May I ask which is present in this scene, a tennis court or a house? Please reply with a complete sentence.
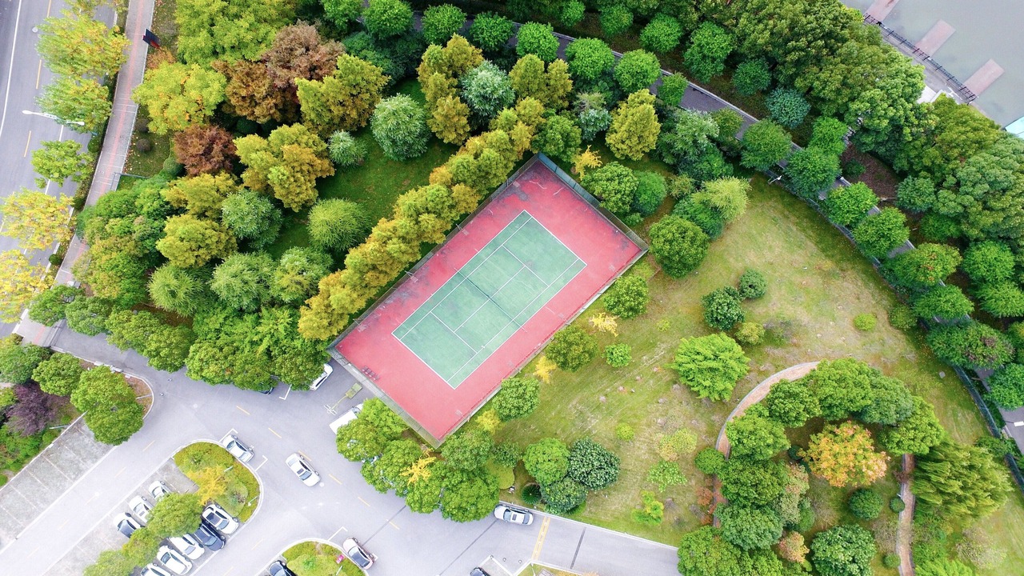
Of the two, only a tennis court appears.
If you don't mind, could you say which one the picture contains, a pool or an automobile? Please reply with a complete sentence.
Visible in the photo is an automobile.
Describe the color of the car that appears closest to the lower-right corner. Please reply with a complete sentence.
From above, the car that appears closest to the lower-right corner appears white.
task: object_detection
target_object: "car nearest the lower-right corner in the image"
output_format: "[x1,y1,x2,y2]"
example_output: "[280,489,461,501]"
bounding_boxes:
[494,503,533,525]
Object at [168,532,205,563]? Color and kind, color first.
white car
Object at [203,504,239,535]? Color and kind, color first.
white car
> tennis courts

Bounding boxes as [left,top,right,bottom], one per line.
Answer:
[330,156,643,443]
